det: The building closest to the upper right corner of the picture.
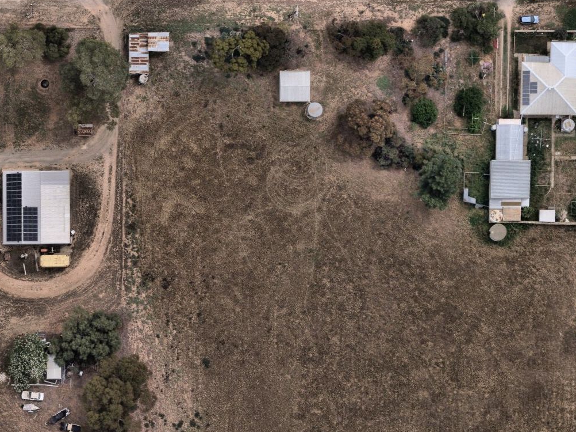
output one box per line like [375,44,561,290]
[520,41,576,116]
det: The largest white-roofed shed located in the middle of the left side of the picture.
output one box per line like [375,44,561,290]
[1,171,69,245]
